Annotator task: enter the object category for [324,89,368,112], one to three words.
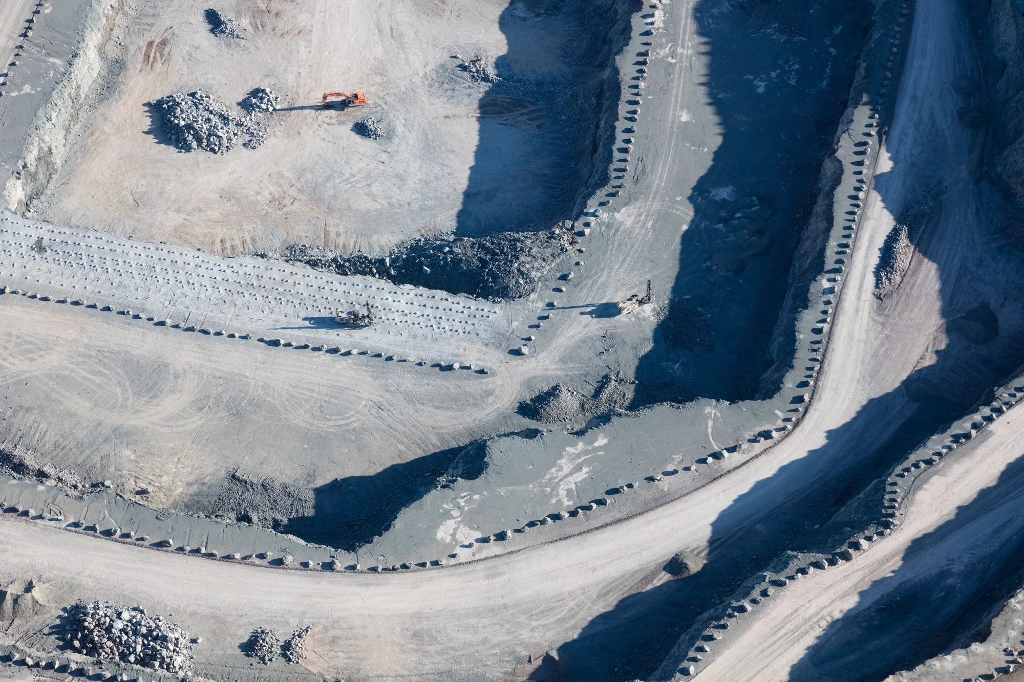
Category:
work vehicle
